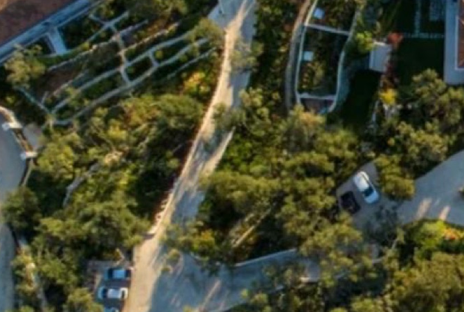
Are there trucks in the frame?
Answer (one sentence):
No, I find no truck anywhere in the image.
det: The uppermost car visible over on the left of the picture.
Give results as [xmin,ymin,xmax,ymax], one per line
[106,267,135,281]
